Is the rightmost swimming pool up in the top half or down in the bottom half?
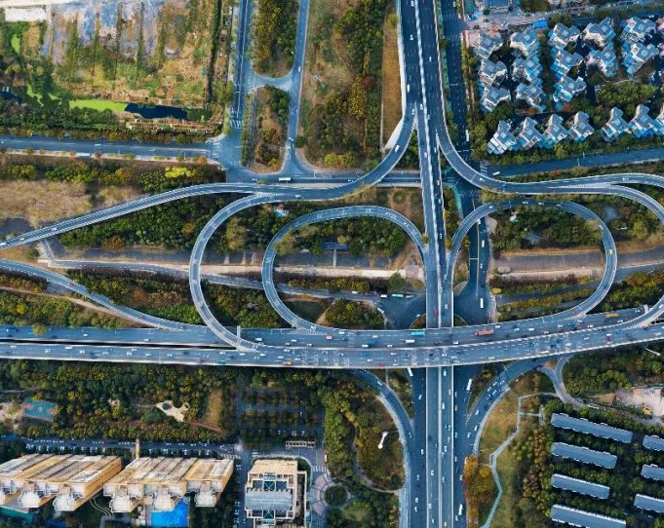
bottom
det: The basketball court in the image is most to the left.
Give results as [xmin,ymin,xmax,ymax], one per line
[22,398,56,420]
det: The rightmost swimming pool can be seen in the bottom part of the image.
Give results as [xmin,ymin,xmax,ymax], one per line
[149,497,190,528]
